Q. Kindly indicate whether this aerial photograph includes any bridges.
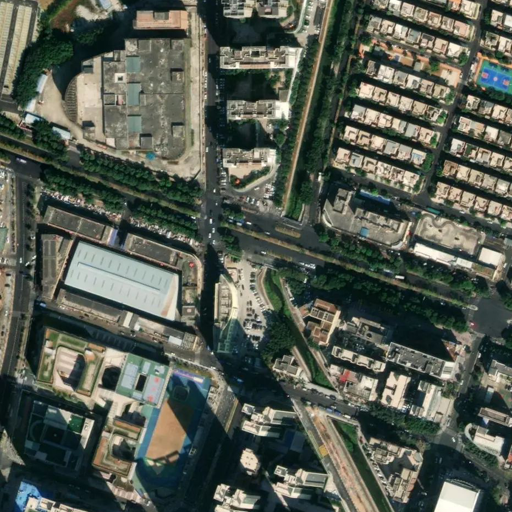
Yes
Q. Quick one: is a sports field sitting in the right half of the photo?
No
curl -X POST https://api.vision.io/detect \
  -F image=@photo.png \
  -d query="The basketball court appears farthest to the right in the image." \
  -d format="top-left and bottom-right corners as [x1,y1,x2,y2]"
[473,61,512,97]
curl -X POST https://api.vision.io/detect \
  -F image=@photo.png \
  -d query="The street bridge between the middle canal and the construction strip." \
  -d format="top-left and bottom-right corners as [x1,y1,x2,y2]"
[304,375,352,417]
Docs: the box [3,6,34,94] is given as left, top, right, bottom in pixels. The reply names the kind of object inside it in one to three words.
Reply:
shed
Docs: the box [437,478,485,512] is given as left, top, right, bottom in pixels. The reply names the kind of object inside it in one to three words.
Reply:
building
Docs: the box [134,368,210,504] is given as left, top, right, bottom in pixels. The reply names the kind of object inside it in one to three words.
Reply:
sports field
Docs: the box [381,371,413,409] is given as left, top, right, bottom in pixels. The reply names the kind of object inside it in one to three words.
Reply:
building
